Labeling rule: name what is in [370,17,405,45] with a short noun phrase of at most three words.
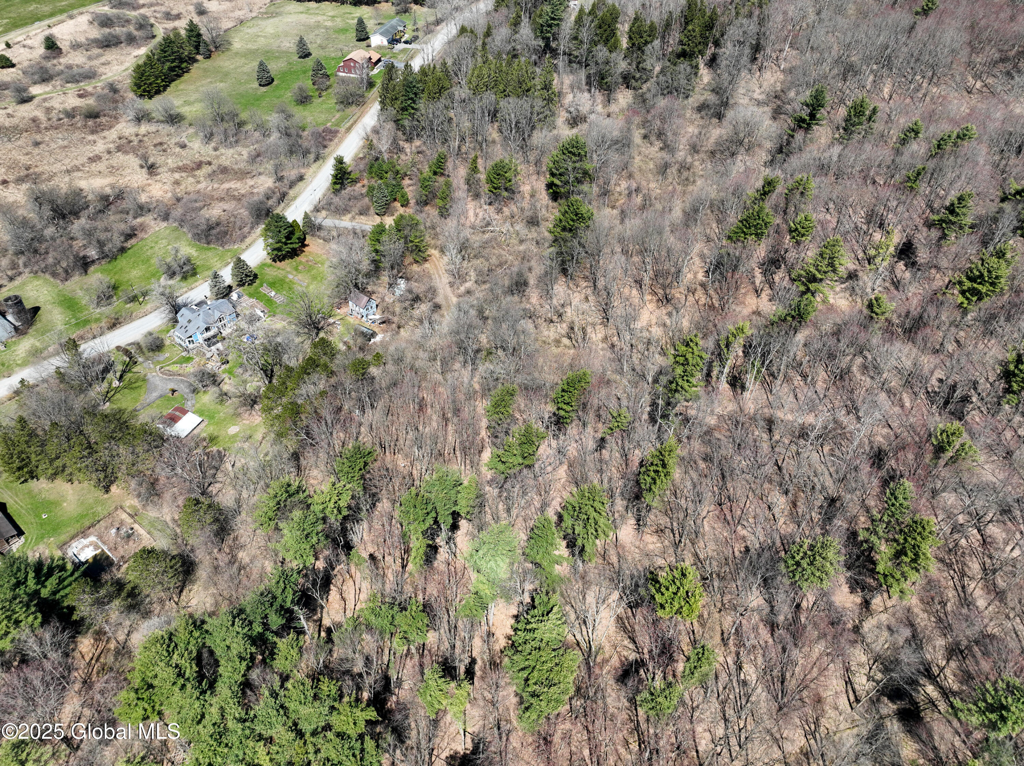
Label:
house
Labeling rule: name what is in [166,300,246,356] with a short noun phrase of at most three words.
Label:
house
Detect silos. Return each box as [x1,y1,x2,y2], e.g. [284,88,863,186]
[0,293,33,332]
